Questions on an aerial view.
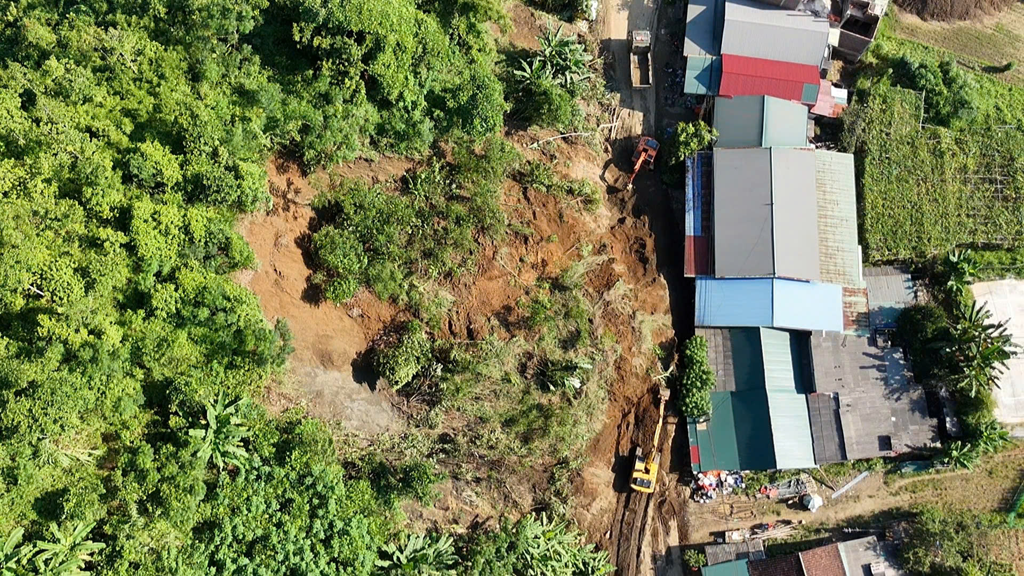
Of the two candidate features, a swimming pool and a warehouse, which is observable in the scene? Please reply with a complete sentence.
This aerial view contains a warehouse.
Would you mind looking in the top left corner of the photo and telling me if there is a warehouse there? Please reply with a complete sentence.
No, looking in the top left corner of the photo, there is no warehouse.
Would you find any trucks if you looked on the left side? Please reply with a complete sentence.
No, no truck can be made out on the left side.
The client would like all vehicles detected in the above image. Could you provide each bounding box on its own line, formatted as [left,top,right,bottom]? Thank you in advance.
[627,394,666,497]
[627,134,661,186]
[628,27,653,89]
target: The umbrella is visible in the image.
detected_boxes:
[804,490,826,513]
